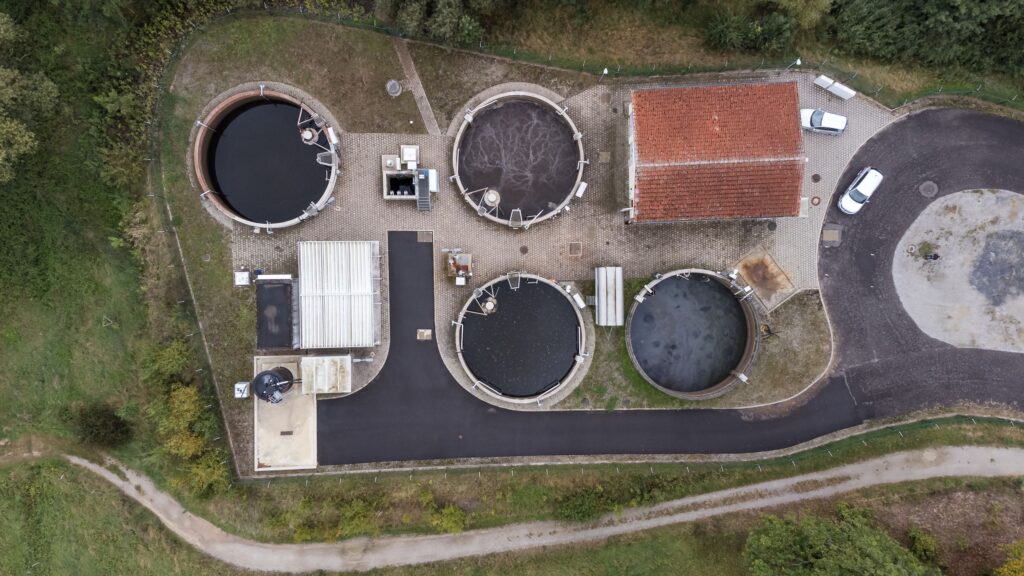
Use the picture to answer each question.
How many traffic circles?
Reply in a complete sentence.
I count no traffic circles.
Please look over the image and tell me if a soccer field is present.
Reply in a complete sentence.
No, no soccer field is visible in the view.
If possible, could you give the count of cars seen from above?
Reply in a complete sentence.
In total, 2 cars can be seen.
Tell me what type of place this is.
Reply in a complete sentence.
The area seen from above is an industrial area.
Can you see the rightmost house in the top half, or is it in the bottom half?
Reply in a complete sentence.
It is in the top half that the rightmost house appears.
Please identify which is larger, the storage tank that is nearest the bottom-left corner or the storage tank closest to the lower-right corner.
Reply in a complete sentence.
It is the storage tank closest to the lower-right corner that is larger, not the storage tank that is nearest the bottom-left corner.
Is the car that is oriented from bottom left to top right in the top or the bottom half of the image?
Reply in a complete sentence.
Seen from above, the car that is oriented from bottom left to top right lies in the top half of the view.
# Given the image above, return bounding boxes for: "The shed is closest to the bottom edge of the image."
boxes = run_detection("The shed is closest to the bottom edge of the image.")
[302,355,355,393]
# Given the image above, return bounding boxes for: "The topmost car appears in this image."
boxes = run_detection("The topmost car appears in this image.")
[801,107,848,135]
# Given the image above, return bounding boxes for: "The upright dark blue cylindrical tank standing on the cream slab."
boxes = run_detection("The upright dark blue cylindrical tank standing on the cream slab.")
[251,367,302,406]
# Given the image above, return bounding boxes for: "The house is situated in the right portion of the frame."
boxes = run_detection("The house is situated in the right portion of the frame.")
[620,79,811,223]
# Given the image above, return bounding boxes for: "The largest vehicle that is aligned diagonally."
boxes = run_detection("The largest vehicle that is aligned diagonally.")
[836,166,883,215]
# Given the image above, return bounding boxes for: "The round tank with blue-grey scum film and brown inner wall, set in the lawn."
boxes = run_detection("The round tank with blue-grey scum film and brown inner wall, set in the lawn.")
[625,267,759,401]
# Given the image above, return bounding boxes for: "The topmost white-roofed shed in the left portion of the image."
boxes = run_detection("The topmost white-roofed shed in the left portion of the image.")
[292,240,383,348]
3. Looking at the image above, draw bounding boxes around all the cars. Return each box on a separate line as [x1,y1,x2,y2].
[836,166,883,215]
[801,107,848,135]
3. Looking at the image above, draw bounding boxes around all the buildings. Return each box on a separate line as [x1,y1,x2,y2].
[620,79,811,223]
[302,355,355,393]
[292,240,383,348]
